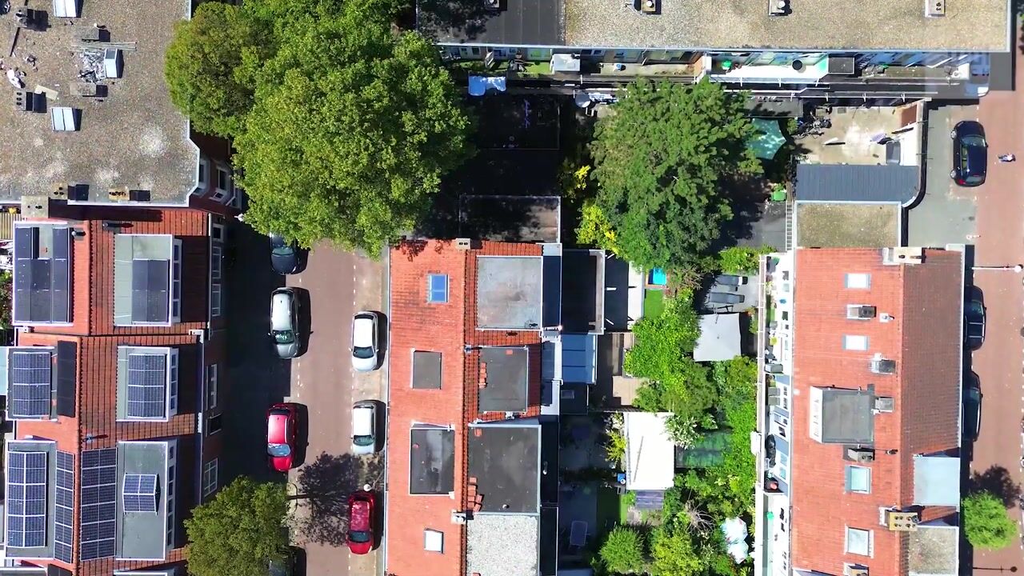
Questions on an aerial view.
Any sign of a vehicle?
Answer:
Yes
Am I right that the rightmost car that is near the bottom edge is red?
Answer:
Yes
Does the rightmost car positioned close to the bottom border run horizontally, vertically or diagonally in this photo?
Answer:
vertically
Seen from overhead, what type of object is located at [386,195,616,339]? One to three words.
house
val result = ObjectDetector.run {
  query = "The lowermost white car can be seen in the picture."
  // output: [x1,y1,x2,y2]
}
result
[348,402,378,453]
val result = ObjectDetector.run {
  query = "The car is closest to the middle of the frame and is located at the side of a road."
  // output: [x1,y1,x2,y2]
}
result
[348,313,379,370]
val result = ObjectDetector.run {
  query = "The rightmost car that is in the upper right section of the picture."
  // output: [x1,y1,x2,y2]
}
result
[947,122,986,186]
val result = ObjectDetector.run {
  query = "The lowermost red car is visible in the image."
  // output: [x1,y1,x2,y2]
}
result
[344,492,375,552]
